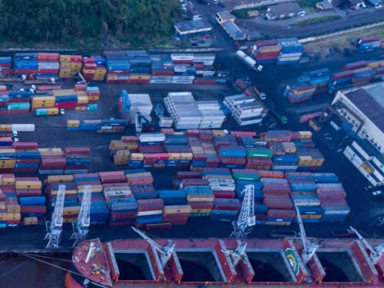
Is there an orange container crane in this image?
No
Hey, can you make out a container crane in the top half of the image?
No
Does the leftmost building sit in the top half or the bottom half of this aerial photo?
top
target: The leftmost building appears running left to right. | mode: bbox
[175,19,215,39]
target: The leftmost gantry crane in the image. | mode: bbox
[42,185,63,249]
